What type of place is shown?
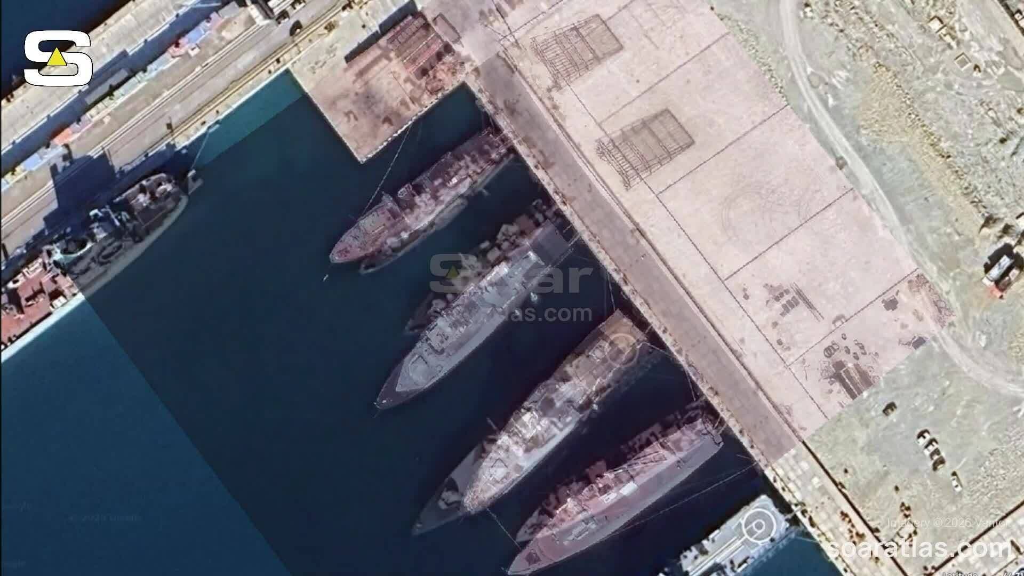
port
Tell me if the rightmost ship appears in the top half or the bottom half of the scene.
bottom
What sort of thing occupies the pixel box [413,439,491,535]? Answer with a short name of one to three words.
boat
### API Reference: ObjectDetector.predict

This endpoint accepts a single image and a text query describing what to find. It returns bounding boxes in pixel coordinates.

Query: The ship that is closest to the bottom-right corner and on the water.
[658,494,791,576]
